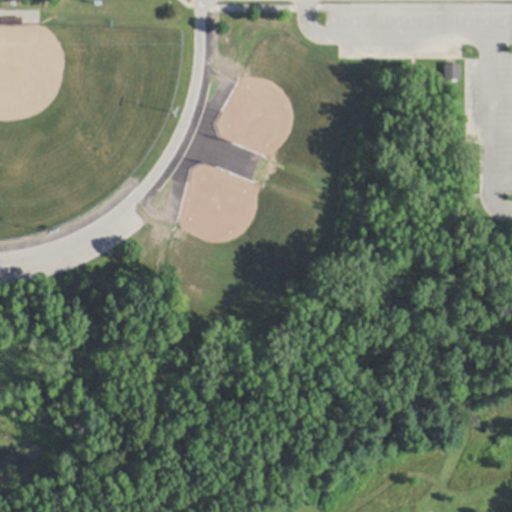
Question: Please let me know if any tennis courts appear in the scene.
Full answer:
No, no tennis court is visible in the view.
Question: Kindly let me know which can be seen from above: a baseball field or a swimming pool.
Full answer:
The image shows a baseball field.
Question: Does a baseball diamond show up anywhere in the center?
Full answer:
Yes, a baseball diamond is visible in the center.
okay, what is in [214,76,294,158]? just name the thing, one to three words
baseball field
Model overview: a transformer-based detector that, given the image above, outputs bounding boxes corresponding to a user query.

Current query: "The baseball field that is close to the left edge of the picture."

[0,24,182,242]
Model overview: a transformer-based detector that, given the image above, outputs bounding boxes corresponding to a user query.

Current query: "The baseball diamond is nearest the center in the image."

[179,164,259,242]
